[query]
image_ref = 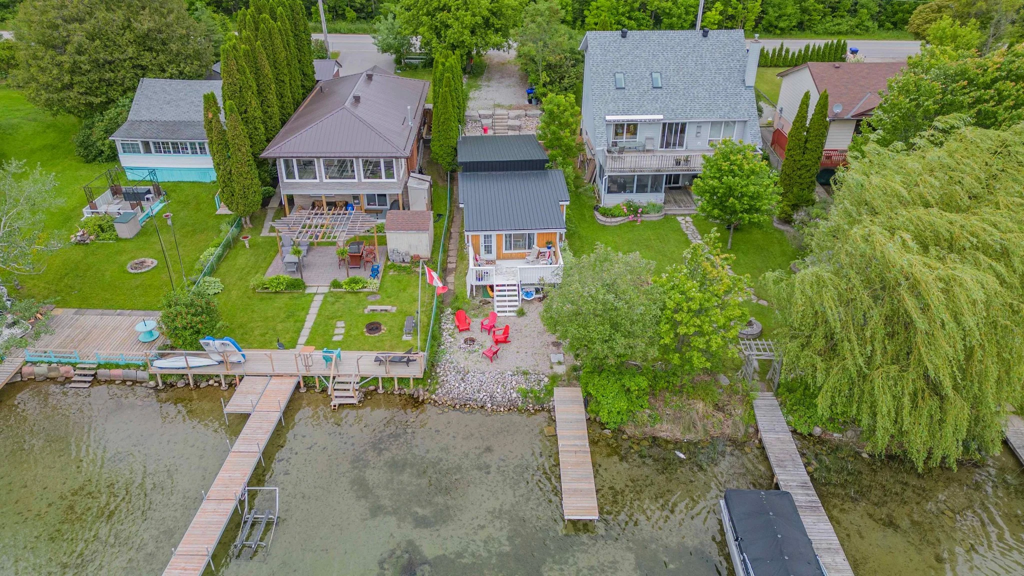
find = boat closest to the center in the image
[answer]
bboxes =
[520,286,538,306]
